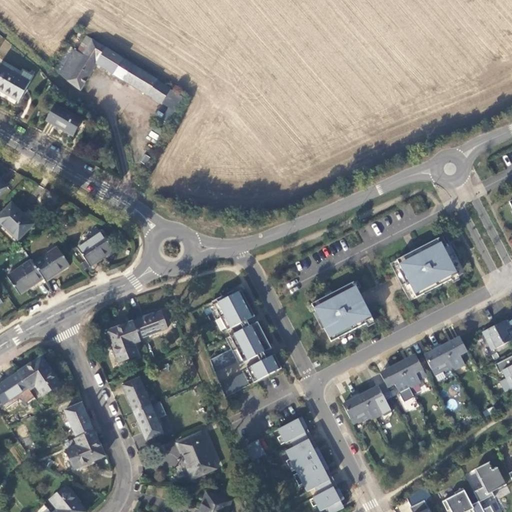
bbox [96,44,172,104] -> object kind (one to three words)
barn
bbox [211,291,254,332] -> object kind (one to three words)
house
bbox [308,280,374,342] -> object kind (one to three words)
building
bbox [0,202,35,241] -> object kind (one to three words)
house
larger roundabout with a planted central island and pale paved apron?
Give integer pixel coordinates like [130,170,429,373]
[144,220,201,277]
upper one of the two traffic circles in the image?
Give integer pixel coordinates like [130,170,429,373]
[430,148,470,189]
